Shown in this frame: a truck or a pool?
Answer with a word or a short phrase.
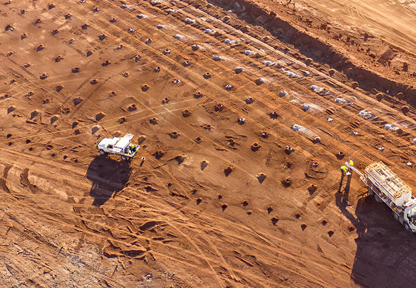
truck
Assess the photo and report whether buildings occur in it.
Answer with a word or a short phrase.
No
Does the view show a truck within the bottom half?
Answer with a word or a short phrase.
Yes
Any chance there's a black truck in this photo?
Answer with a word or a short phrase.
No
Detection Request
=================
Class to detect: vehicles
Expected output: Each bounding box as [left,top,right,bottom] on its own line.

[91,130,139,161]
[351,153,416,237]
